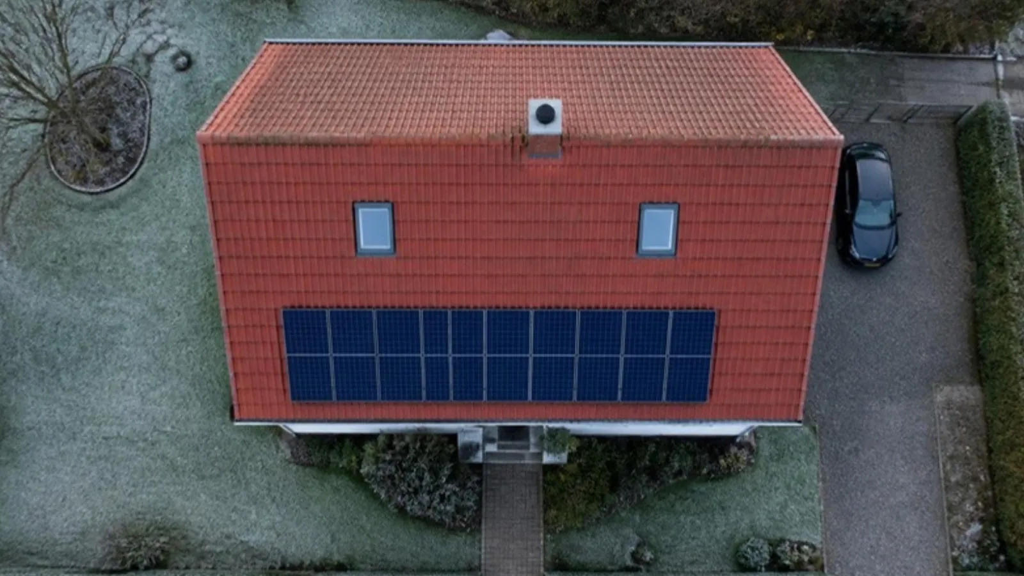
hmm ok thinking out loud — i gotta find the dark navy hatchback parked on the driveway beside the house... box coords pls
[835,140,905,265]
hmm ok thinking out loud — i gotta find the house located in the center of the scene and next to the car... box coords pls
[198,38,843,441]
